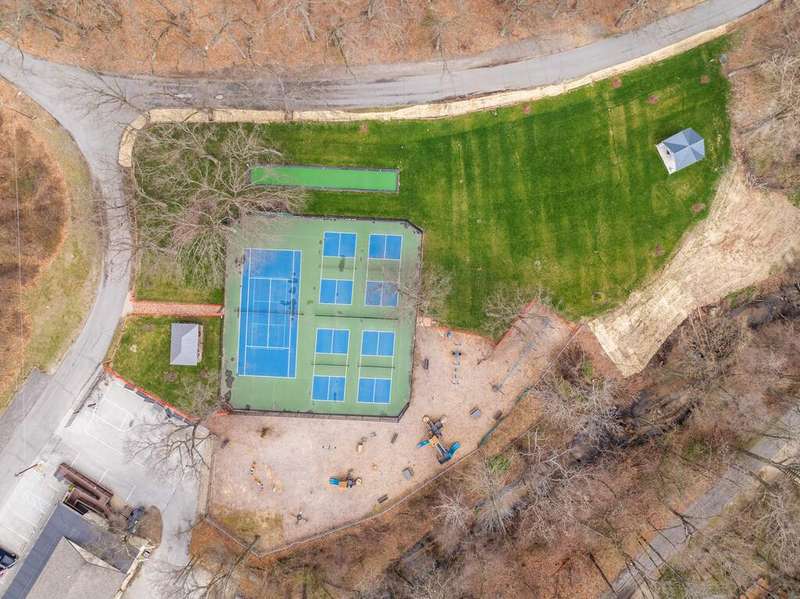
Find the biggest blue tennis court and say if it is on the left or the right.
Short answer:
left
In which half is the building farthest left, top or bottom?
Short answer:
bottom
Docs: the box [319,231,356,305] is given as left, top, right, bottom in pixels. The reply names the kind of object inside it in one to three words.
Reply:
sports court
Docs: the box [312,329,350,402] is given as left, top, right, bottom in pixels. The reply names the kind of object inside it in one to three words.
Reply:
sports court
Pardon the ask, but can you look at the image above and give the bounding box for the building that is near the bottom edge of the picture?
[5,500,150,599]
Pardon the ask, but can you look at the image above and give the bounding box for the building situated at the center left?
[170,323,203,365]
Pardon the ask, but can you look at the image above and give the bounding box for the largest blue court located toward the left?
[235,248,303,378]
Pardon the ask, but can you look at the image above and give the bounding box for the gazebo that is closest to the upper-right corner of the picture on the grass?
[656,128,705,174]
